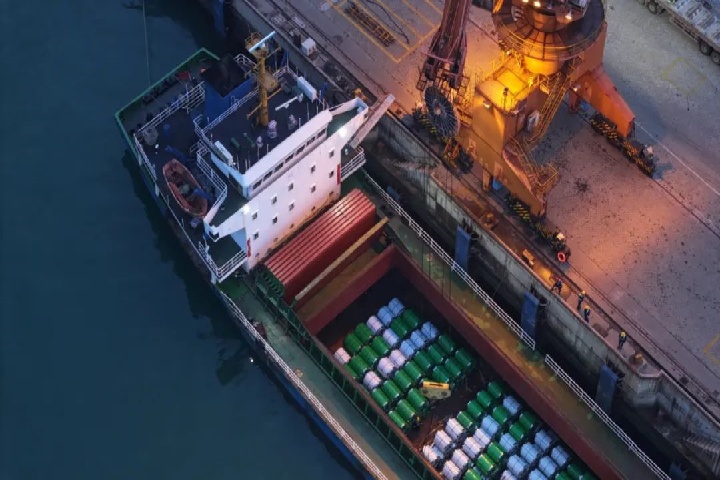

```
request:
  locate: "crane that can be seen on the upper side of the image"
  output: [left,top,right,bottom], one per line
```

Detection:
[409,0,661,379]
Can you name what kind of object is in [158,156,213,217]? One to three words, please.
boat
